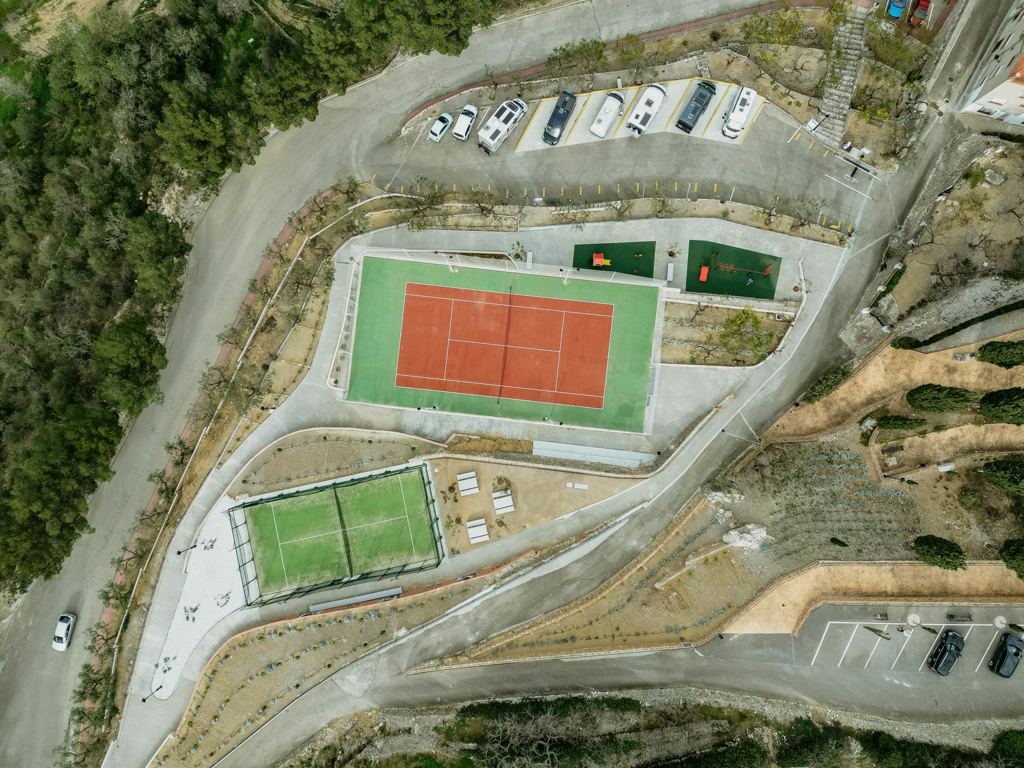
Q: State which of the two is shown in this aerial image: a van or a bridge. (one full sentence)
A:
It is a van that can be seen here.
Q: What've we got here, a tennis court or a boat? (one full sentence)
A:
There is a tennis court in the scene.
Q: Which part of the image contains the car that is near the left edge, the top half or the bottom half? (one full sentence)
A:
Seen from above, the car that is near the left edge lies in the bottom half of the view.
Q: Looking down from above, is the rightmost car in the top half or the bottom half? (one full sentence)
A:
The bottom half of the photo is where the rightmost car is.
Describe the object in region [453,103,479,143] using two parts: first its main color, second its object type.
white car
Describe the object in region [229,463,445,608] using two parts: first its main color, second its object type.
green sports court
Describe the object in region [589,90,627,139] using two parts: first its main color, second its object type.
white van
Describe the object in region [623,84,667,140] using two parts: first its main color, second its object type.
white camper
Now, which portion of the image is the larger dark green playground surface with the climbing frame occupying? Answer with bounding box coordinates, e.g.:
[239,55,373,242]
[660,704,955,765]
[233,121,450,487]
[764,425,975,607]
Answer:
[686,240,782,300]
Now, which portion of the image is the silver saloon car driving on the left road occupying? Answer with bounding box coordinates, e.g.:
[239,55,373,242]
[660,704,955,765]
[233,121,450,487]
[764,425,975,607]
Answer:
[50,612,78,652]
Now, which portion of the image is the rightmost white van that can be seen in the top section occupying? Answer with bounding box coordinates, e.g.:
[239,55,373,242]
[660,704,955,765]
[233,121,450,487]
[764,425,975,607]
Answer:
[722,86,756,141]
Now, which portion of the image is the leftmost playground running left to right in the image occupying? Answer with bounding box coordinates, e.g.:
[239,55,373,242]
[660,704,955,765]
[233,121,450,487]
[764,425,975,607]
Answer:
[573,241,656,279]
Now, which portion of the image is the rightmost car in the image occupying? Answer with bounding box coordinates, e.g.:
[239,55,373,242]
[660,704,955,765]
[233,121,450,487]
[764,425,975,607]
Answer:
[990,633,1024,680]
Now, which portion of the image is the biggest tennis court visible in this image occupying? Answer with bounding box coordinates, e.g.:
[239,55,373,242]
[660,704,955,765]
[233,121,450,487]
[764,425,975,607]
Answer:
[348,259,658,431]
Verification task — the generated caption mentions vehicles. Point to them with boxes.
[50,612,78,652]
[886,0,911,21]
[478,97,529,152]
[543,94,576,147]
[623,84,667,140]
[676,79,717,134]
[722,86,756,141]
[930,631,966,678]
[429,112,454,143]
[907,0,935,27]
[589,90,627,139]
[990,633,1024,680]
[453,103,479,143]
